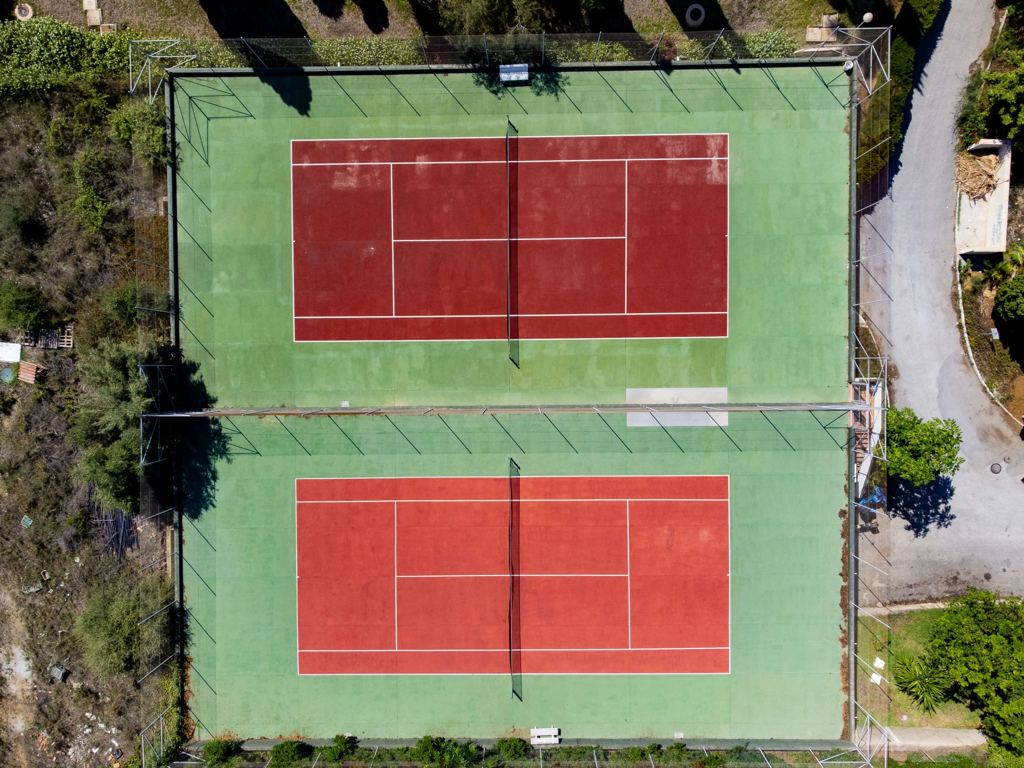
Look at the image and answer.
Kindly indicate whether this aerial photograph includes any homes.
No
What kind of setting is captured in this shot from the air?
sports ground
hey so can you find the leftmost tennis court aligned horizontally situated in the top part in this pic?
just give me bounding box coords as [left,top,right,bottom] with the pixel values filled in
[175,66,849,407]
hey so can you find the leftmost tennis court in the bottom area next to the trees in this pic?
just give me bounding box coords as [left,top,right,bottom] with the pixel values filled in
[181,407,849,740]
